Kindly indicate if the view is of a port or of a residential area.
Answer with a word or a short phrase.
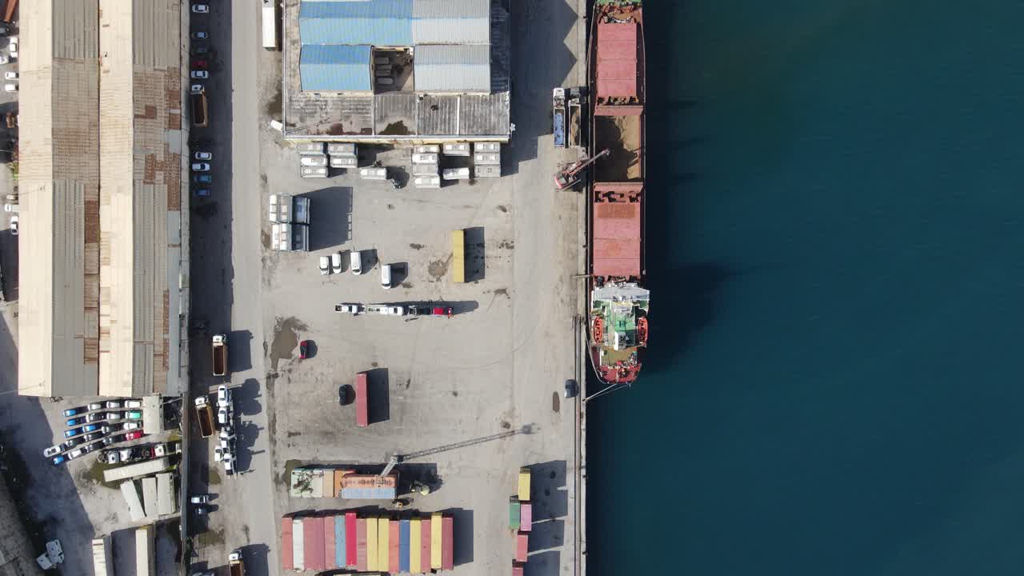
port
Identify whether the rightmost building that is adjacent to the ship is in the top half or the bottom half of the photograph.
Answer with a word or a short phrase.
top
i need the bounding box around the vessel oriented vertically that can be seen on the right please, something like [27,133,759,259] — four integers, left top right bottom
[587,0,649,384]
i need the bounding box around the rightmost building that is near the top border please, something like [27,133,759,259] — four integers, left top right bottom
[284,0,513,141]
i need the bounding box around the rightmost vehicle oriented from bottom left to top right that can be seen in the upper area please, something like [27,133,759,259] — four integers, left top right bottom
[551,146,613,191]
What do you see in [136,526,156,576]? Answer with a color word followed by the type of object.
white trailer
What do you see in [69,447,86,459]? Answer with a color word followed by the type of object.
white vehicle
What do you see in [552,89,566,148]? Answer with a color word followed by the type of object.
white vehicle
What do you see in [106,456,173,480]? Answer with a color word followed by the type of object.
white trailer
